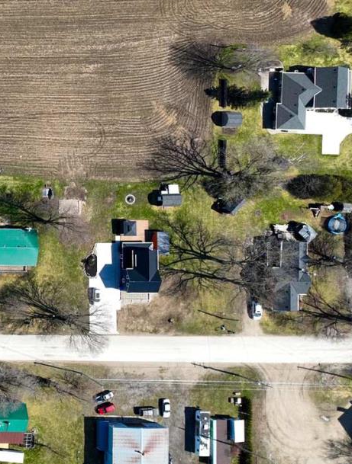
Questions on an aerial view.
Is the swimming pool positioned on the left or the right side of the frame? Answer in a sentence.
It is on the right.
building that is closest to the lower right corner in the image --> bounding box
[206,417,239,464]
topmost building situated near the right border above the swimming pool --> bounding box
[271,64,352,130]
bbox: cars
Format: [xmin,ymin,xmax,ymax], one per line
[97,390,113,403]
[92,286,101,305]
[161,398,172,417]
[252,301,261,320]
[95,403,116,415]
